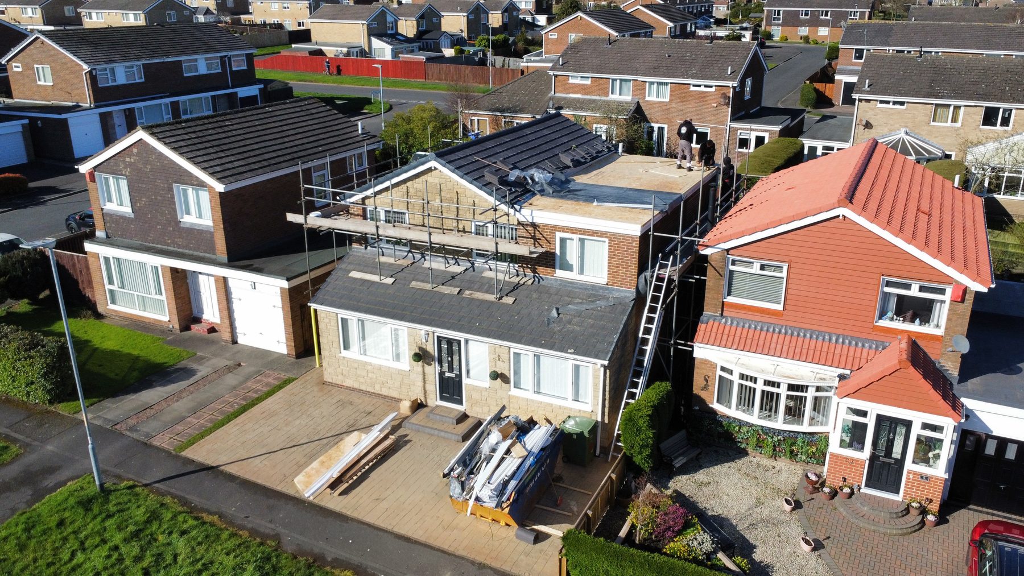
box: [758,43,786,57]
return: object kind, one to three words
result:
car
